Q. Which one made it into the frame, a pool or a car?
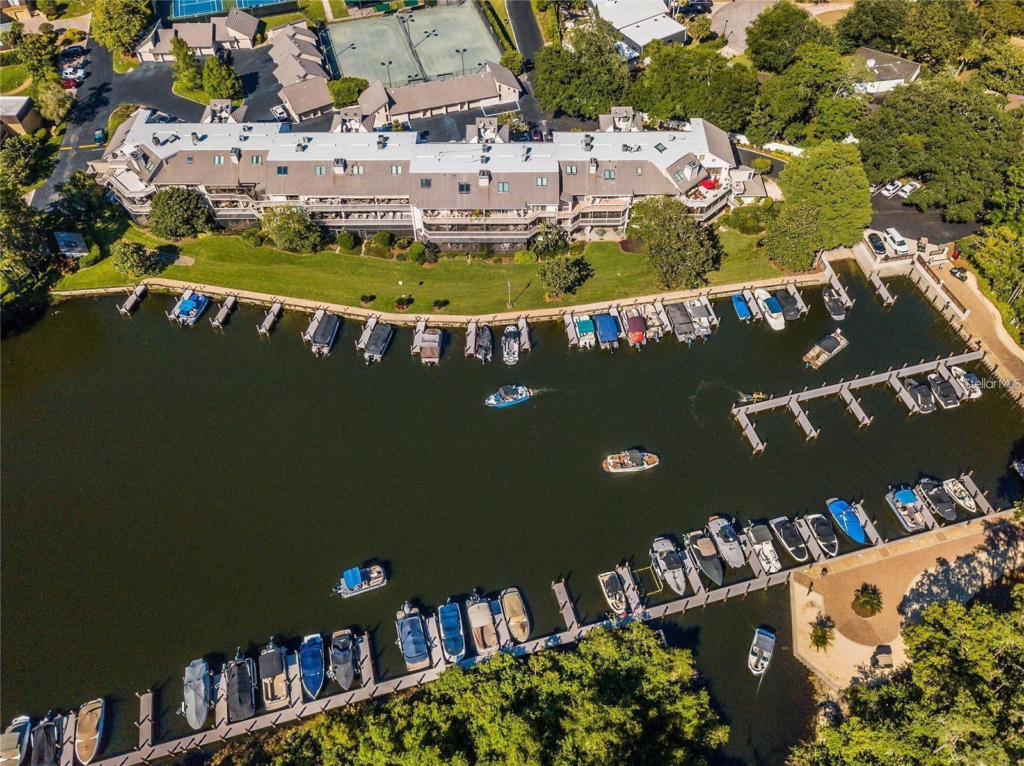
car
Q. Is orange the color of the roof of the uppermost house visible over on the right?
No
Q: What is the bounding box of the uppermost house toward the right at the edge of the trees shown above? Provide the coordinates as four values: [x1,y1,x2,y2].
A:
[586,0,687,51]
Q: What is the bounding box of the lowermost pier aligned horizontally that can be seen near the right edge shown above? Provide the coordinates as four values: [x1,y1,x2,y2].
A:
[731,346,986,455]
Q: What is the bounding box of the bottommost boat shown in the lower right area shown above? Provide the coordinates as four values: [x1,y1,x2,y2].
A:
[748,623,777,675]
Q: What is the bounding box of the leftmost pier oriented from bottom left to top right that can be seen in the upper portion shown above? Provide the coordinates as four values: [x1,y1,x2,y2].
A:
[116,281,150,317]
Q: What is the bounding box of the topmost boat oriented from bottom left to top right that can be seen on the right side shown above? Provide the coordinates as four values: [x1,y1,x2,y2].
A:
[799,329,850,370]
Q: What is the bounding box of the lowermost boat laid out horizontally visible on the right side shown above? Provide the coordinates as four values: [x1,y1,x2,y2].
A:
[600,447,659,472]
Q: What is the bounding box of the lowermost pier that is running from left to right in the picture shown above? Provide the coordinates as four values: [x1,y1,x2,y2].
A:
[53,531,792,766]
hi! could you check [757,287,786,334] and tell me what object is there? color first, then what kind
white boat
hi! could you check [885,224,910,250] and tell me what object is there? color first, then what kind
white car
